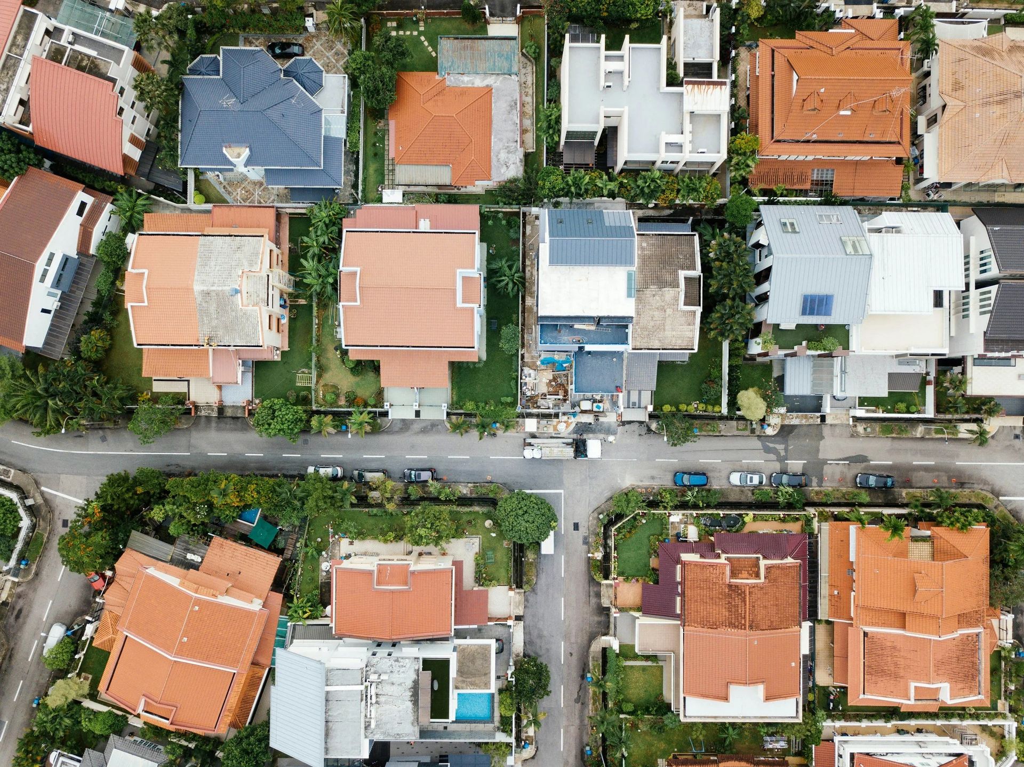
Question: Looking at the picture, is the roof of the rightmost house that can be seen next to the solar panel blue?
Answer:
No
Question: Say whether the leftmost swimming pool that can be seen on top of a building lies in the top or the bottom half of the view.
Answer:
bottom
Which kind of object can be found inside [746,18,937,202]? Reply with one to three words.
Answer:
house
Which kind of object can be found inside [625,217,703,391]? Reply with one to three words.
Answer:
house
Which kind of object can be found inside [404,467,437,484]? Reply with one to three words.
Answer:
car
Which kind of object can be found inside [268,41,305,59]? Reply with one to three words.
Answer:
car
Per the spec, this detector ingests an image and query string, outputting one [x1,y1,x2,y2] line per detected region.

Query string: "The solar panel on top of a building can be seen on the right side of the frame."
[801,294,833,316]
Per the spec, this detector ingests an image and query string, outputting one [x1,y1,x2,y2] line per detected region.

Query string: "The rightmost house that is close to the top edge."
[909,31,1024,190]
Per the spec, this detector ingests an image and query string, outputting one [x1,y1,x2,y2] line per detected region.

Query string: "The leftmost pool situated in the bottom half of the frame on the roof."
[456,693,491,720]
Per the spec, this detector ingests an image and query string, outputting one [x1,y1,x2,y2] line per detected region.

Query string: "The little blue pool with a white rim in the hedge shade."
[236,507,259,526]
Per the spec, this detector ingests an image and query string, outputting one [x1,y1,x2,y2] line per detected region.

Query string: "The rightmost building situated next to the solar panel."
[838,212,965,396]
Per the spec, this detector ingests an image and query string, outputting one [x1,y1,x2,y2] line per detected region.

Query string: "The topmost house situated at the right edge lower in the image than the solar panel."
[817,522,1001,712]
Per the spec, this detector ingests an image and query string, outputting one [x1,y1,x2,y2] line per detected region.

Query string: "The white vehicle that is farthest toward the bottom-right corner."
[728,471,765,488]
